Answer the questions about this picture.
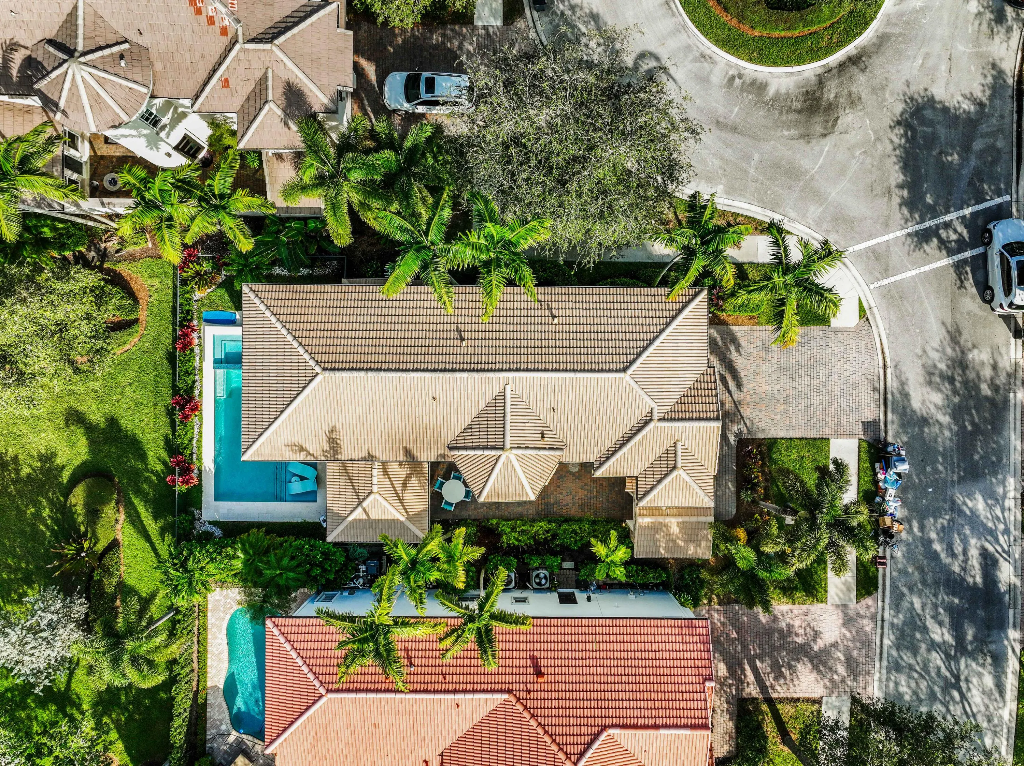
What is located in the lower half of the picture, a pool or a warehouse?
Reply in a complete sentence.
The one visible in the lower half of the picture is a pool.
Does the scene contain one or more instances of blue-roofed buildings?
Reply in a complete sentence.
No, the frame has no blue-roofed building in it.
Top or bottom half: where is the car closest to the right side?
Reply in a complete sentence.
The top half of the photo is where the car closest to the right side is.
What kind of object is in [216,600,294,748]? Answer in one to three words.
swimming pool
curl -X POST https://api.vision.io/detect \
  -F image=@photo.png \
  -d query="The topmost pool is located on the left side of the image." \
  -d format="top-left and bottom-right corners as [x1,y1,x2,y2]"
[213,335,317,502]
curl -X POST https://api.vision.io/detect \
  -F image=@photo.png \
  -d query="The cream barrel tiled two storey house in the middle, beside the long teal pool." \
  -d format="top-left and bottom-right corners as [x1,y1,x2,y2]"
[239,277,722,562]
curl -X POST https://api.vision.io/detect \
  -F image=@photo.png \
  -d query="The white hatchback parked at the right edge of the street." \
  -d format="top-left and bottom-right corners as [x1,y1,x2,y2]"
[988,223,1024,310]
